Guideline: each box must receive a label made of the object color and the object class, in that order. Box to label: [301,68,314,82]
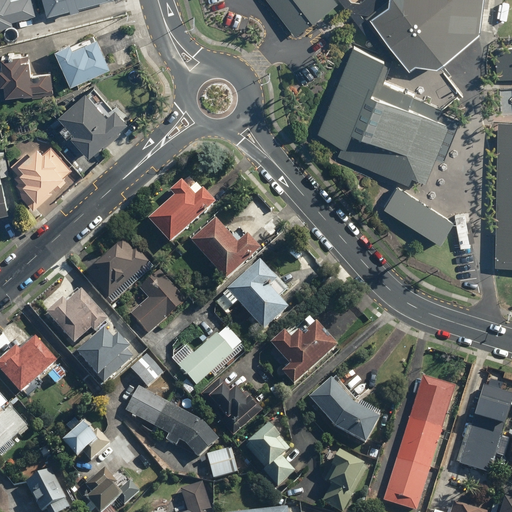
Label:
gray vehicle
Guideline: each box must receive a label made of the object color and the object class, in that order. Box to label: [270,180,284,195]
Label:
white car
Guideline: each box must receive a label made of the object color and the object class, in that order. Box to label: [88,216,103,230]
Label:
white vehicle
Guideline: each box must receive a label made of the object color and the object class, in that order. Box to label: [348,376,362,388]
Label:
white vehicle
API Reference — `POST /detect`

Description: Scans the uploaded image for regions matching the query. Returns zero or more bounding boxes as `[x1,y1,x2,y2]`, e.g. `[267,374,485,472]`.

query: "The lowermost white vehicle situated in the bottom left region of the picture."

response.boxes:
[98,447,112,461]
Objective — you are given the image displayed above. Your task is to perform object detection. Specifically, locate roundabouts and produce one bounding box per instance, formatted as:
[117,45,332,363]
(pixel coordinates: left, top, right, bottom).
[196,78,238,118]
